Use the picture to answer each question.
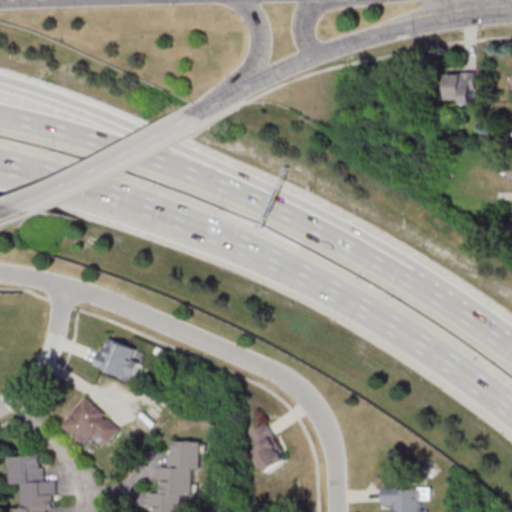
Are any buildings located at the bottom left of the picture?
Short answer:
Yes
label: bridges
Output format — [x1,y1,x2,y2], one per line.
[0,104,202,226]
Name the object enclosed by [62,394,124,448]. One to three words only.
house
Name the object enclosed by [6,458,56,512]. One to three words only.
house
